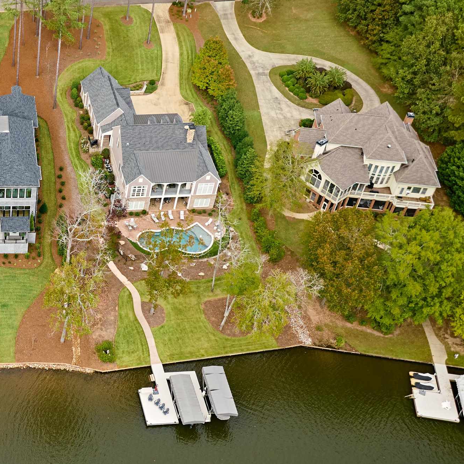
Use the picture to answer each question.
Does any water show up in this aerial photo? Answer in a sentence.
Yes, water can be seen from above here.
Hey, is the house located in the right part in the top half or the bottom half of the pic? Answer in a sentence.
Seen from above, the house located in the right part lies in the top half of the view.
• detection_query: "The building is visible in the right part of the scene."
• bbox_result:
[289,98,441,221]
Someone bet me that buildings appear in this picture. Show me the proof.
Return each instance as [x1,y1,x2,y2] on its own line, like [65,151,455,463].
[289,98,441,221]
[0,84,43,220]
[81,76,223,212]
